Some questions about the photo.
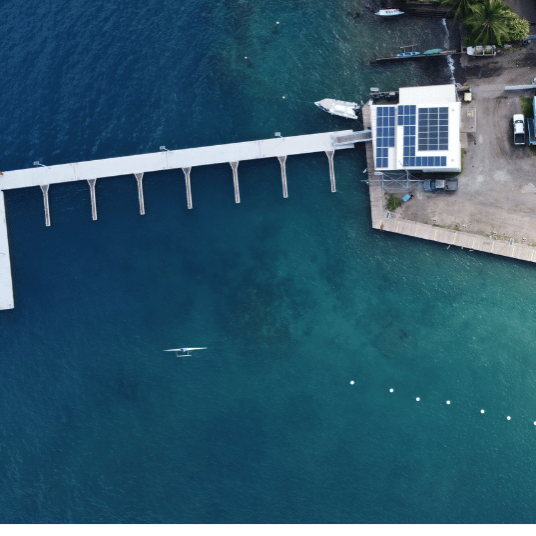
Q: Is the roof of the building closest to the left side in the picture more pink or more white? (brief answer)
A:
white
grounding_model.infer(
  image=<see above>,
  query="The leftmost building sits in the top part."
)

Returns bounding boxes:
[372,85,462,176]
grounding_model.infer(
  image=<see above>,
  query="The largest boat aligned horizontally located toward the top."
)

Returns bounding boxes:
[314,100,360,119]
